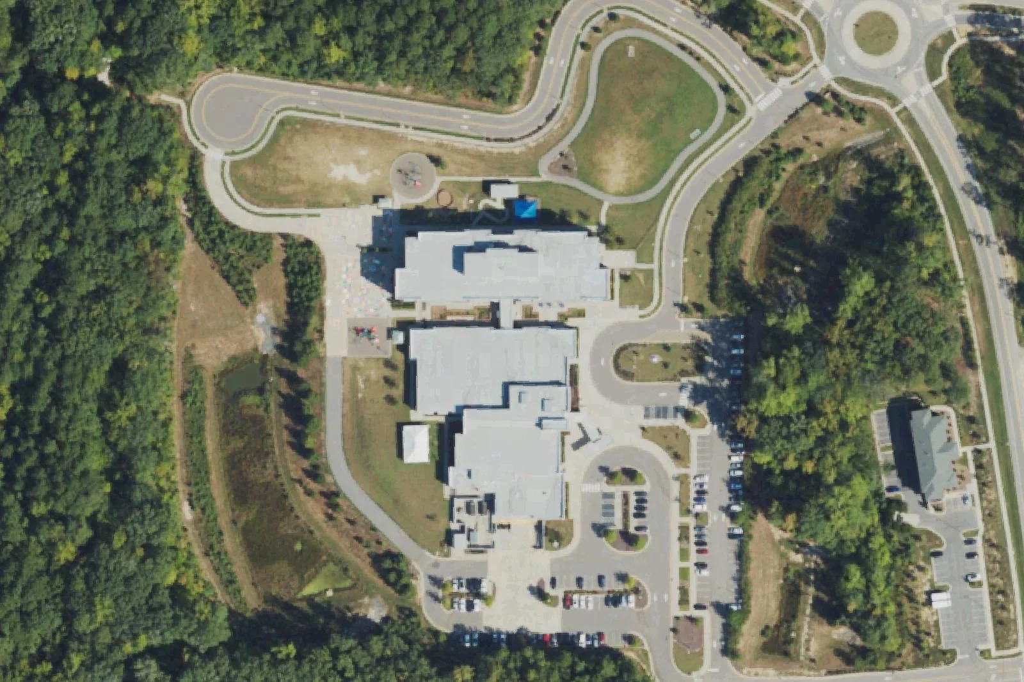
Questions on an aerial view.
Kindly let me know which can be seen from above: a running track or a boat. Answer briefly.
running track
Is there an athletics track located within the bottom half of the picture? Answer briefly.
No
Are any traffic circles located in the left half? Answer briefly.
No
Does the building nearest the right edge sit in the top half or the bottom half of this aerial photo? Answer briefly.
bottom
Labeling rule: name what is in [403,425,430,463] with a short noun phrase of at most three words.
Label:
tent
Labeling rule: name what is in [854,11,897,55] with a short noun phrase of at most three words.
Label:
roundabout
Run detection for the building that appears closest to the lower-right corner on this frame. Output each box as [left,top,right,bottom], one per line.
[911,407,961,503]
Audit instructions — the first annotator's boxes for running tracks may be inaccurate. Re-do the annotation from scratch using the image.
[538,28,726,204]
